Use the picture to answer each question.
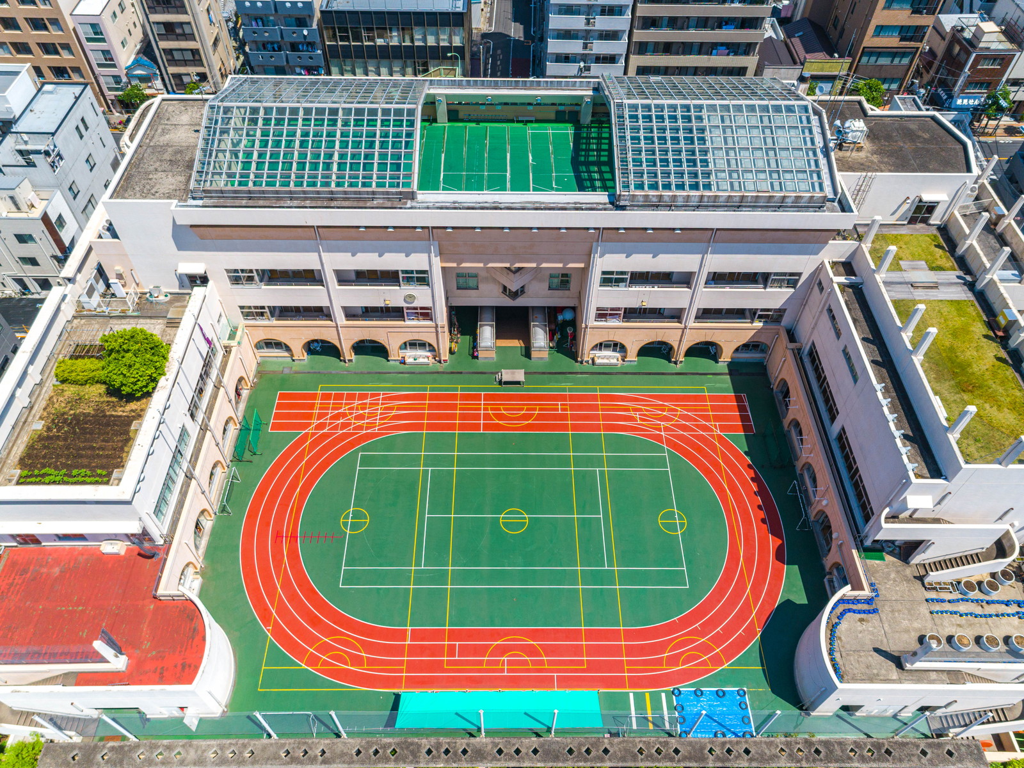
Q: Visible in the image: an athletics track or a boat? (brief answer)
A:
athletics track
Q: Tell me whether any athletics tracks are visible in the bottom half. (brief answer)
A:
Yes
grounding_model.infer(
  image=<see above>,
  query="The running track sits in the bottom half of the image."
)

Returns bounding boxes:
[245,392,781,689]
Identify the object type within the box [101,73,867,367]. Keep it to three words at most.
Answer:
building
